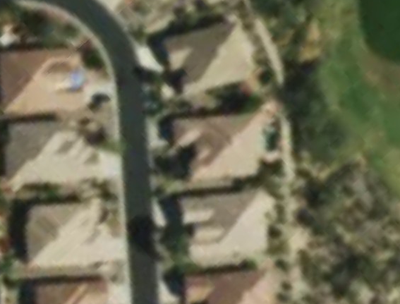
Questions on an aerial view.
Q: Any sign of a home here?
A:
Yes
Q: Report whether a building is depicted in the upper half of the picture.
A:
Yes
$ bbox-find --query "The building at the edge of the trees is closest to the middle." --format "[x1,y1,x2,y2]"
[175,107,270,177]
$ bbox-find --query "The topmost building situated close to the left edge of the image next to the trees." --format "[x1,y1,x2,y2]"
[0,50,86,113]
